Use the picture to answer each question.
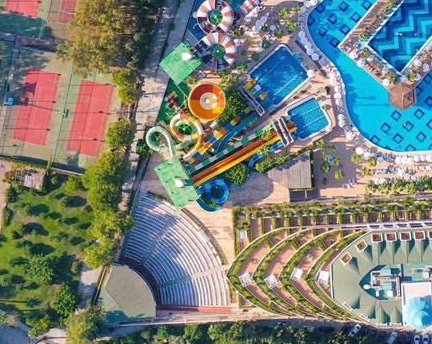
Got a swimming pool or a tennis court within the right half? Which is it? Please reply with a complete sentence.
The one visible within the right half is a swimming pool.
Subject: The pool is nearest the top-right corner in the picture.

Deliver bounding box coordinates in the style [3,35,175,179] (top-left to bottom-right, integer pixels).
[366,0,432,75]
